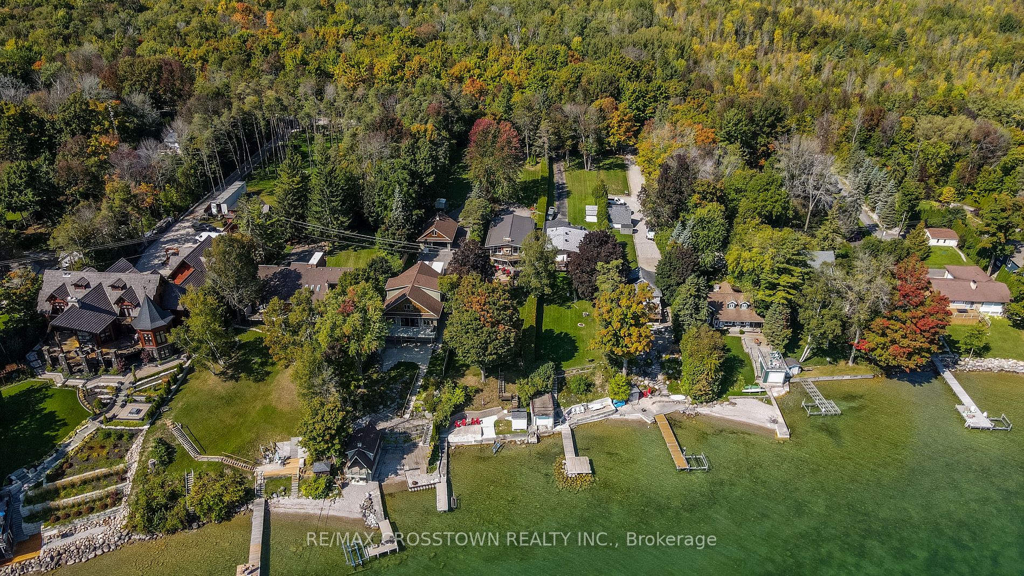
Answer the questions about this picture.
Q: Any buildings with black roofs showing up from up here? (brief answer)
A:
Yes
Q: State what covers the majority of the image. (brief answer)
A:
trees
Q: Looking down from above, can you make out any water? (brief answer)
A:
Yes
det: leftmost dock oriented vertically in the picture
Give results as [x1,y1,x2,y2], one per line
[236,499,267,576]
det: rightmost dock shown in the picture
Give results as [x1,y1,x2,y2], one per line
[937,364,992,433]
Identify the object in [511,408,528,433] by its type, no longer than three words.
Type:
shed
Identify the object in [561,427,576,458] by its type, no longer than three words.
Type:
pier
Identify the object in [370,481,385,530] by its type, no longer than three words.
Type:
pier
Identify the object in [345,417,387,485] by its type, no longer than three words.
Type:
building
